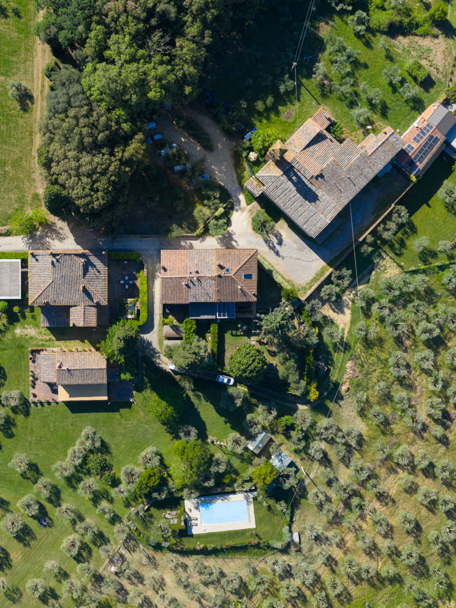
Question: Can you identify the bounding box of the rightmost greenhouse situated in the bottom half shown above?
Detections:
[269,450,299,475]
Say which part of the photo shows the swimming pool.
bottom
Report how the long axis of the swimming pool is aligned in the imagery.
horizontally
